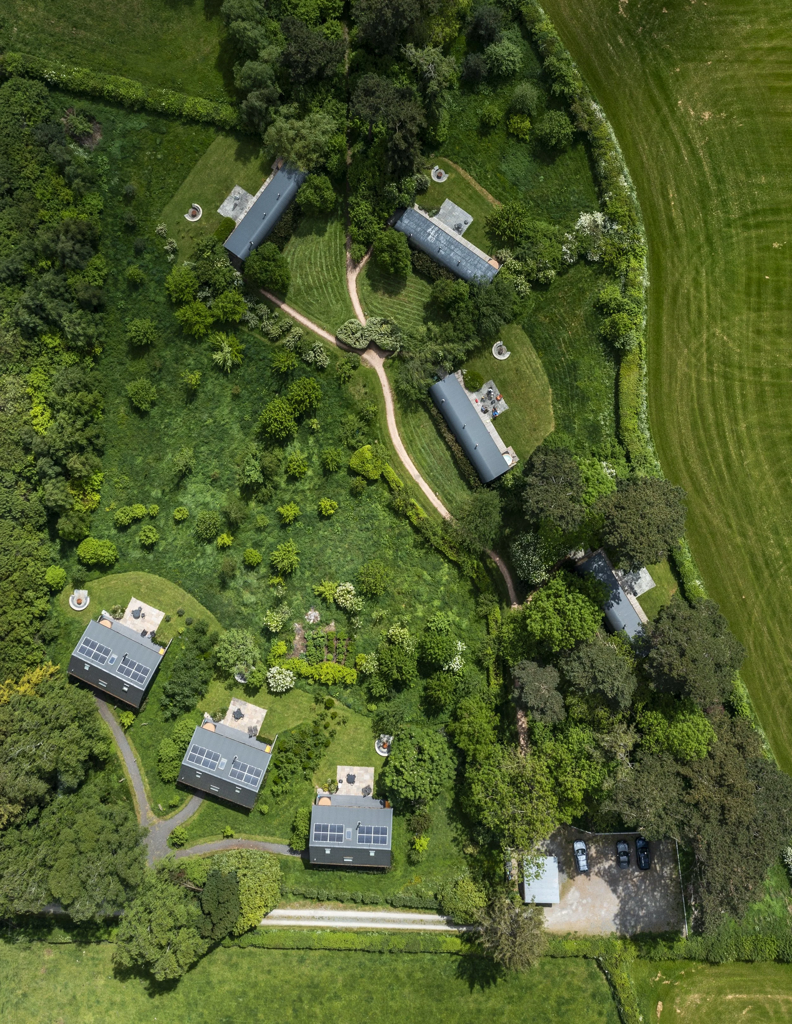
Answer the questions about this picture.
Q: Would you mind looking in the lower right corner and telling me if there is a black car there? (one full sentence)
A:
Yes, I can see a black car in the lower right corner.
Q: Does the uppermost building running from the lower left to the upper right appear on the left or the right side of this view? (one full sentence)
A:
The uppermost building running from the lower left to the upper right is on the left side of the image.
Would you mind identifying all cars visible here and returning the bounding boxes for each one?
[573,838,589,874]
[616,839,631,869]
[635,835,652,871]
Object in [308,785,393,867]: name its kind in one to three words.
house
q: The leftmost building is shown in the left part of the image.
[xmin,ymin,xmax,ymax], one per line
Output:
[65,614,175,708]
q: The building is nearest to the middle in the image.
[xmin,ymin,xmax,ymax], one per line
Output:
[429,369,521,484]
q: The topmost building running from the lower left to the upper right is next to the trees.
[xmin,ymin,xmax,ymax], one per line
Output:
[217,154,309,269]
